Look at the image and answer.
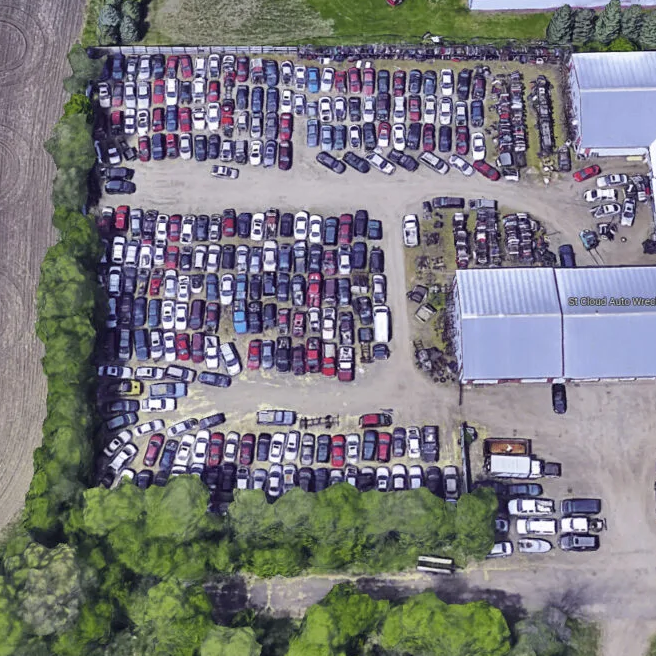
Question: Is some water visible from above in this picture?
No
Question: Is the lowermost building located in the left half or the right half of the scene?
right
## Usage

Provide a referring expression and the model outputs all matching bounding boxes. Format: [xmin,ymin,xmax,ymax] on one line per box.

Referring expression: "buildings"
[570,50,656,158]
[456,264,656,383]
[468,0,642,18]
